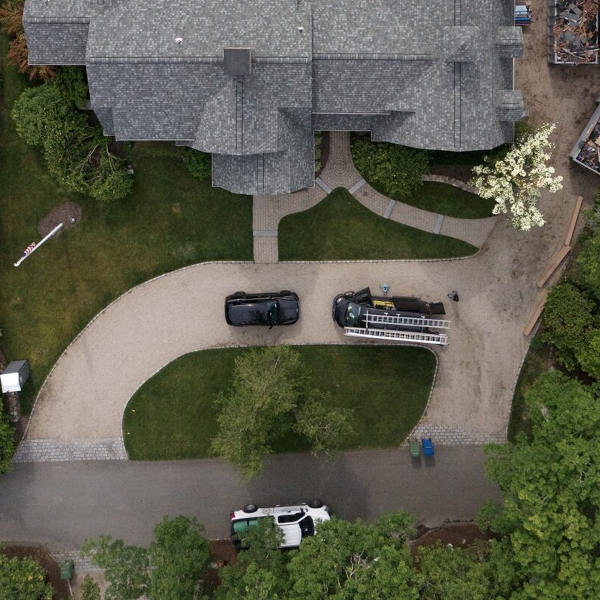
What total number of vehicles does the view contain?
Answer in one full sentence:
There are 3 vehicles in the image.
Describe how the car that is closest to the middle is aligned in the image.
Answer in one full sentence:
In this picture, the car that is closest to the middle lies from left to right.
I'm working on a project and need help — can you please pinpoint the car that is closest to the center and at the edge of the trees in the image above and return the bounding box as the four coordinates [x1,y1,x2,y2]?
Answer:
[226,290,300,328]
